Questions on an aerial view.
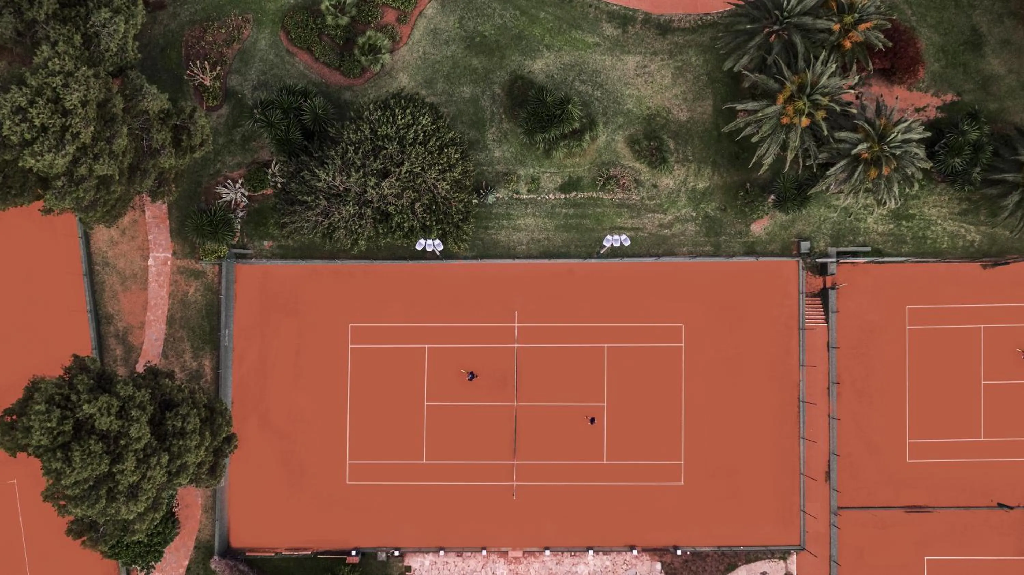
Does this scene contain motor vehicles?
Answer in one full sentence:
No, no motor vehicle can be seen from above.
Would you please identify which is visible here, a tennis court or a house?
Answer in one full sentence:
Looking from above, you can make out a tennis court.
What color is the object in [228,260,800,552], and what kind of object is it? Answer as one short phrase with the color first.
red tennis court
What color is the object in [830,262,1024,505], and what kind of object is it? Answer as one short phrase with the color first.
red tennis court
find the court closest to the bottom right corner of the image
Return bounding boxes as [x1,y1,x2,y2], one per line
[837,508,1024,575]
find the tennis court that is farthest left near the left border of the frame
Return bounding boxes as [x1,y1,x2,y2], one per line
[0,208,121,575]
